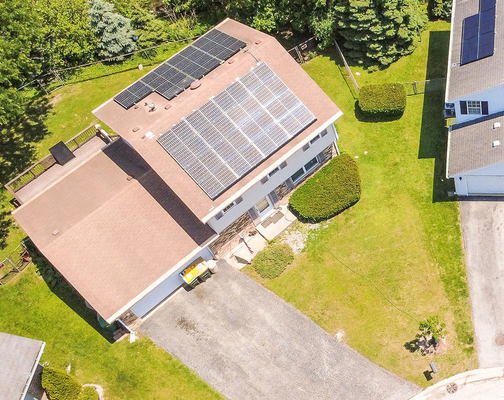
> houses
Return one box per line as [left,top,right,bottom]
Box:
[443,0,504,199]
[4,20,345,349]
[0,336,49,400]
